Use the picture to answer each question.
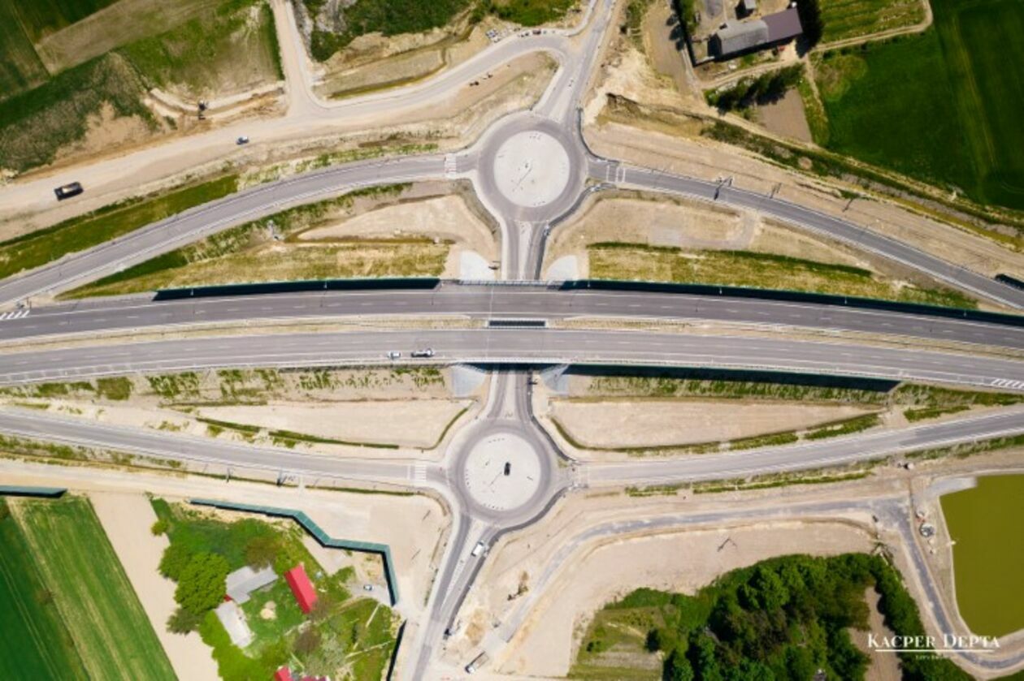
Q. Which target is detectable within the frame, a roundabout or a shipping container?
roundabout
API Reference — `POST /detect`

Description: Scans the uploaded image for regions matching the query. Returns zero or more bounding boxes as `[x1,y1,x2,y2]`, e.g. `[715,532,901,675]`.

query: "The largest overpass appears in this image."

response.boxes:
[457,278,580,321]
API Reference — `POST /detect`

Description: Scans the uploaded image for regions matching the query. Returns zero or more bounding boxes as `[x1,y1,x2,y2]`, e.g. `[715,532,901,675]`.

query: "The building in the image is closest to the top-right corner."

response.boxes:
[762,6,799,47]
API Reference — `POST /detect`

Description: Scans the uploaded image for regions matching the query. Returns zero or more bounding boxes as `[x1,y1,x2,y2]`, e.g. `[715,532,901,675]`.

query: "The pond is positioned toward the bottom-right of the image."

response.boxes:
[943,476,1024,634]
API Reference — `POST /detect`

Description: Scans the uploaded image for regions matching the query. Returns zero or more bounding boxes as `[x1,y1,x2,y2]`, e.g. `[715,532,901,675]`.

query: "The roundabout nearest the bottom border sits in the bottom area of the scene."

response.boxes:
[440,369,558,616]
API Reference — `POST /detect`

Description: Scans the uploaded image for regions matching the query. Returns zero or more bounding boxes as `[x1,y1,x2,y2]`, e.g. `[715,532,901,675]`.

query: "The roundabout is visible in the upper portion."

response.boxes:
[477,77,588,280]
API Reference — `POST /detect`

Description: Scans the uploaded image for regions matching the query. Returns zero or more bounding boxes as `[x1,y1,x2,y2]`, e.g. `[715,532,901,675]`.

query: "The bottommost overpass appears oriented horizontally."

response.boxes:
[453,325,571,364]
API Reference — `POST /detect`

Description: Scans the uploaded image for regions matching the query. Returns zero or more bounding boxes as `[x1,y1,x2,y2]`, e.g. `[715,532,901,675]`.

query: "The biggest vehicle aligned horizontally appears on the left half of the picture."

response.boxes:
[51,182,79,197]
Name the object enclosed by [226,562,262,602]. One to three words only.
house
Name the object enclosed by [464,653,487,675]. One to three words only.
truck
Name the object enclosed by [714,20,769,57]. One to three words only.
barn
